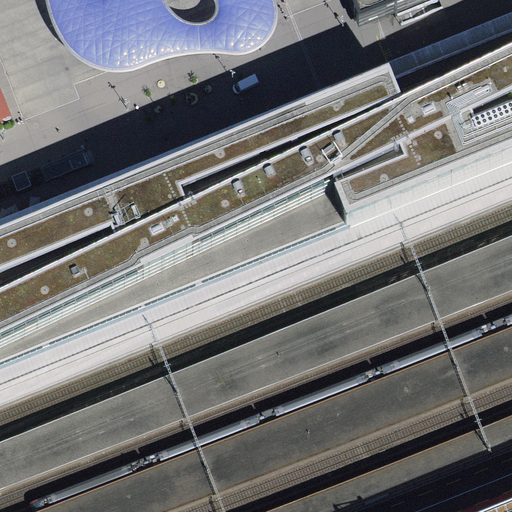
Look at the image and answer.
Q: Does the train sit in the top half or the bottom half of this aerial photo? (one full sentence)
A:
Seen from above, the train lies in the bottom half of the view.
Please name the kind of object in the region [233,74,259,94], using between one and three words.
vehicle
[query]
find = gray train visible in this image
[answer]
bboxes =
[30,310,512,512]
